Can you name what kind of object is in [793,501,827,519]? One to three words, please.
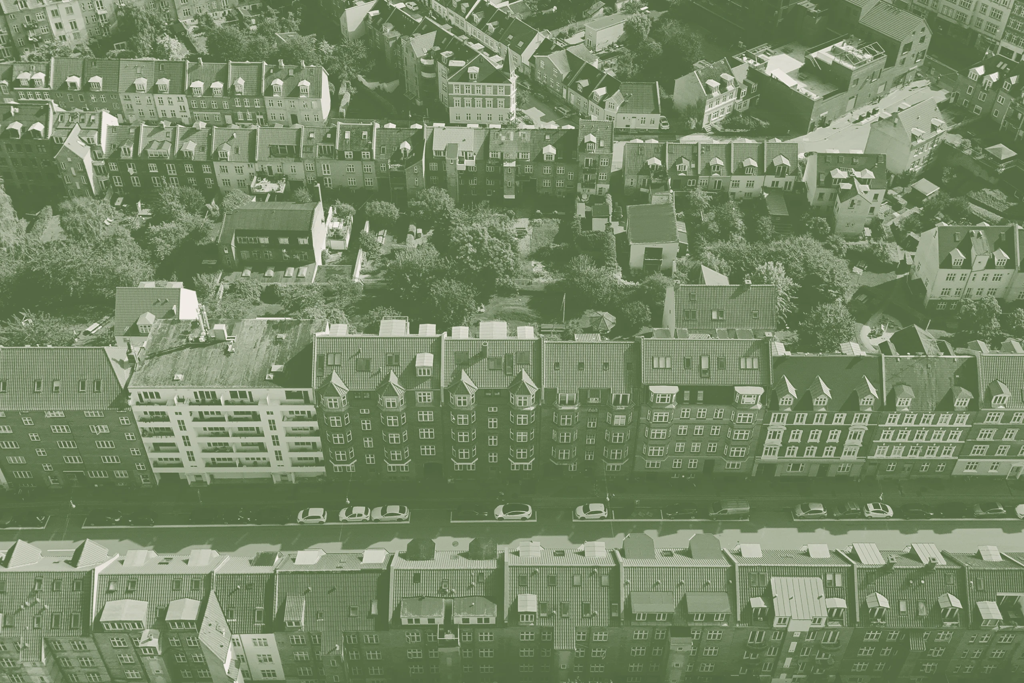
car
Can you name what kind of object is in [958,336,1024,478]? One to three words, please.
building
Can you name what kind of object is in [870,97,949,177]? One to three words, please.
house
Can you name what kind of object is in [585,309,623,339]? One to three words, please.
gazebo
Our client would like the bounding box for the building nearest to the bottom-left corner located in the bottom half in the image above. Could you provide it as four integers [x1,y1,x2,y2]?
[0,537,117,683]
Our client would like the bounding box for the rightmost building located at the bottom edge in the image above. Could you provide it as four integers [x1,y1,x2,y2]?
[945,541,1024,683]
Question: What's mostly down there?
buildings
